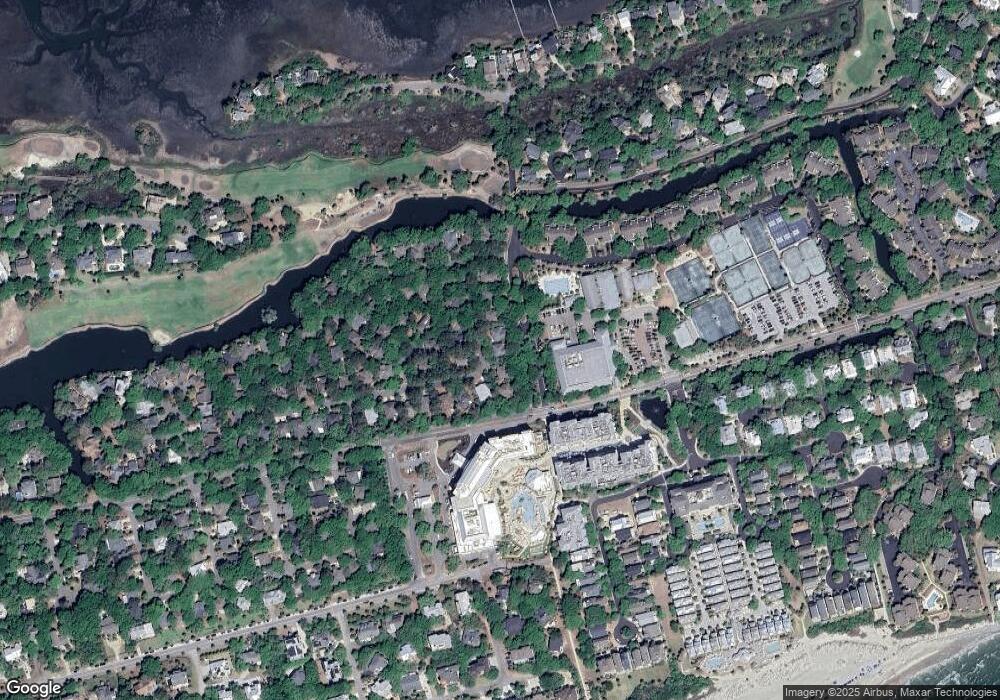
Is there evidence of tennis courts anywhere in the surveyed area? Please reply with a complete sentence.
Yes, this view includes a tennis court.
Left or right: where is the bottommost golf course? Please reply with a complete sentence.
You can find the bottommost golf course on the left side of the picture.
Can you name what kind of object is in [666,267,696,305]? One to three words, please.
tennis court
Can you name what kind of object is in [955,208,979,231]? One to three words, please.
swimming pool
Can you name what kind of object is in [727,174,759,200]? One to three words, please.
house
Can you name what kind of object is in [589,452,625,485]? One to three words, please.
building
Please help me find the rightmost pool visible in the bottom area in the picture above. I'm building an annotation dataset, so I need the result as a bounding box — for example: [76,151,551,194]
[921,589,945,611]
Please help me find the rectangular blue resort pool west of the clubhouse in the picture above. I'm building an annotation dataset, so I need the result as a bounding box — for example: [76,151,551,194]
[543,276,569,295]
